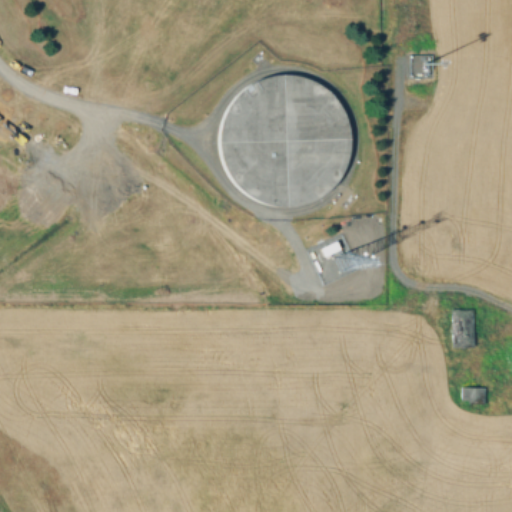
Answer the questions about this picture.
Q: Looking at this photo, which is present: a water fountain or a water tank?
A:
water tank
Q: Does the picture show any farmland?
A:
Yes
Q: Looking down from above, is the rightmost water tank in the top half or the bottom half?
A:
top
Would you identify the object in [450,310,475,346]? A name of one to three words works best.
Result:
building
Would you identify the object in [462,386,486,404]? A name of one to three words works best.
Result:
building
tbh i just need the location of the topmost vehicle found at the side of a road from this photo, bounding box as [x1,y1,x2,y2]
[10,61,35,77]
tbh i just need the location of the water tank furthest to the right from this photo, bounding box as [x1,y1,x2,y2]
[218,75,354,208]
